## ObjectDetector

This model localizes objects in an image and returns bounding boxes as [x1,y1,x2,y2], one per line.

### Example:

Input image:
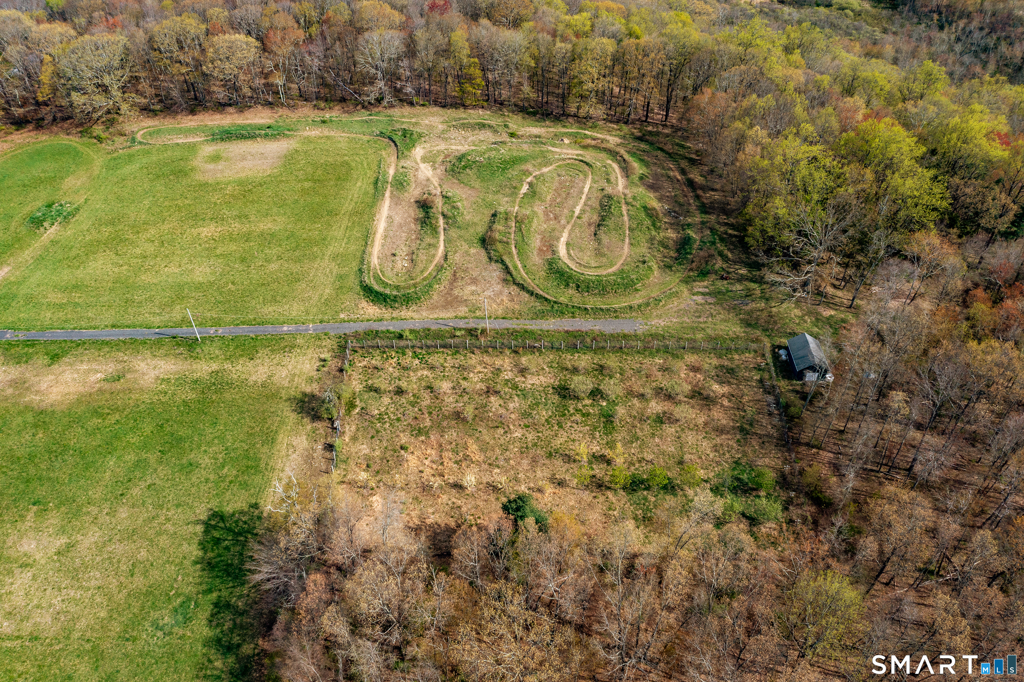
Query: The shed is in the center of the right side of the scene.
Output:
[787,332,830,378]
